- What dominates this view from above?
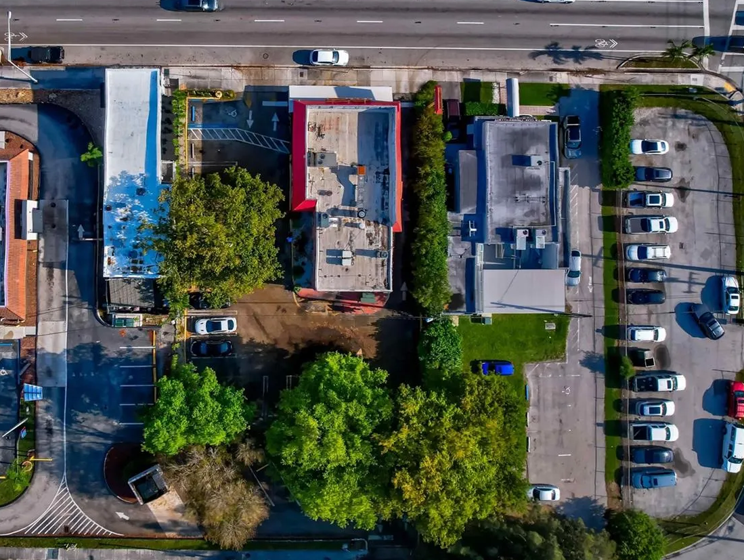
paved ground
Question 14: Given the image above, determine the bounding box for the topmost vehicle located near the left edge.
[28,44,65,64]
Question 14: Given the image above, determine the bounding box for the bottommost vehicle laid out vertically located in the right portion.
[722,420,744,470]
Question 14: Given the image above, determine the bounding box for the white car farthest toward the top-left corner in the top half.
[309,48,348,67]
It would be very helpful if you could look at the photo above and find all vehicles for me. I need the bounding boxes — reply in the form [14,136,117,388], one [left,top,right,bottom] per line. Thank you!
[625,267,667,285]
[523,483,563,503]
[722,420,744,470]
[196,317,235,336]
[624,189,673,210]
[631,138,669,157]
[725,381,744,419]
[192,339,231,358]
[631,468,677,490]
[633,165,674,183]
[28,44,65,64]
[633,374,687,394]
[629,422,679,444]
[635,399,675,417]
[309,48,348,67]
[627,325,666,344]
[690,303,726,342]
[190,291,229,309]
[624,215,677,234]
[624,242,671,261]
[720,275,743,314]
[479,359,514,377]
[630,446,674,465]
[625,288,667,306]
[566,249,584,288]
[180,0,219,14]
